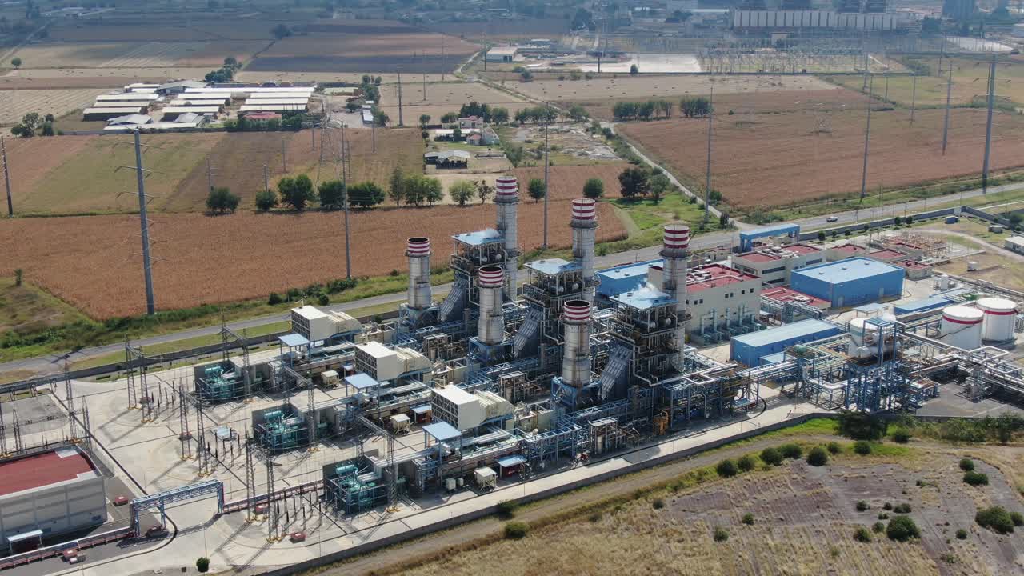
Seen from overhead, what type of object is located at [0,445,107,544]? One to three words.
building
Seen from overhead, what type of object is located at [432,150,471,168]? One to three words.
shed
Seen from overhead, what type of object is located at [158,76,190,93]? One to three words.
shed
